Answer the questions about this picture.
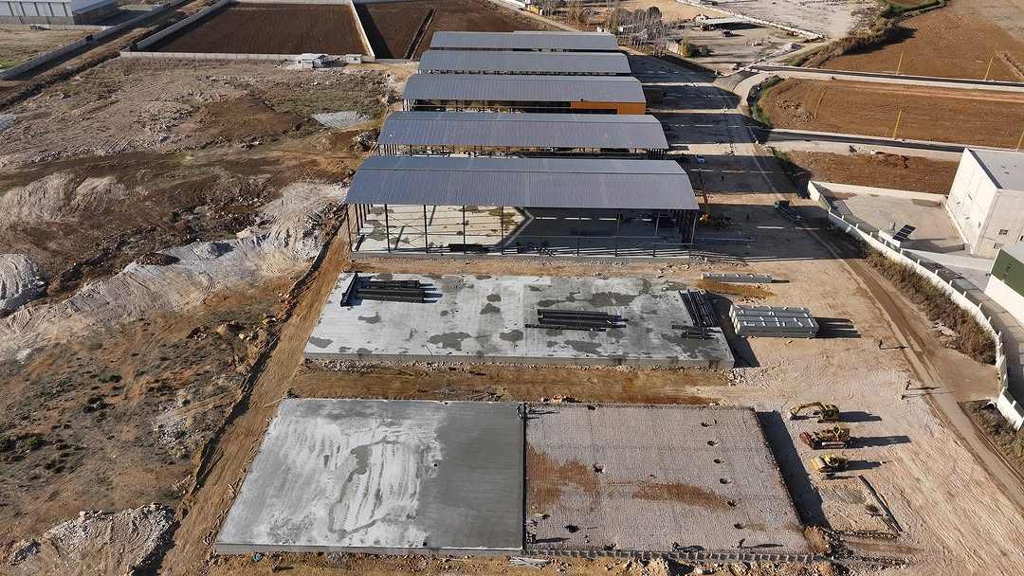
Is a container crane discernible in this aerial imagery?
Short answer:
No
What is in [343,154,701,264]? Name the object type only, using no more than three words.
hangar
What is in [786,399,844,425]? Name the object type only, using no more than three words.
work vehicle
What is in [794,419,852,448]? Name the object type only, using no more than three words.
work vehicle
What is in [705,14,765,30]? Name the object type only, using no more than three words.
barn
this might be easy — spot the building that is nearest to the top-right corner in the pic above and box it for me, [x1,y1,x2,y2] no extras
[948,144,1024,256]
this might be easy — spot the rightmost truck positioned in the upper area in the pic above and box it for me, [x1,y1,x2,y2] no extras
[775,197,805,221]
